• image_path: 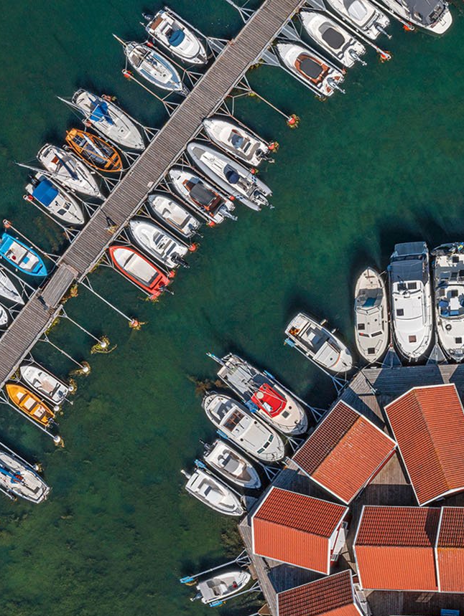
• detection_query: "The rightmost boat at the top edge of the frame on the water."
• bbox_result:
[371,0,464,50]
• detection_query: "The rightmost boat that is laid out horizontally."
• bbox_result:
[436,231,464,243]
